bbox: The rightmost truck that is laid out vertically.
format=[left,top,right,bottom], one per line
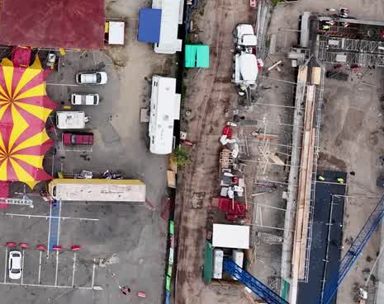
[236,24,265,104]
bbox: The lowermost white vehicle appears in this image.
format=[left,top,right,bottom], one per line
[8,251,24,280]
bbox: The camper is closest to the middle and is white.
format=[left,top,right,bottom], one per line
[142,75,179,155]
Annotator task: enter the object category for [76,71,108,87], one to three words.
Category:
car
